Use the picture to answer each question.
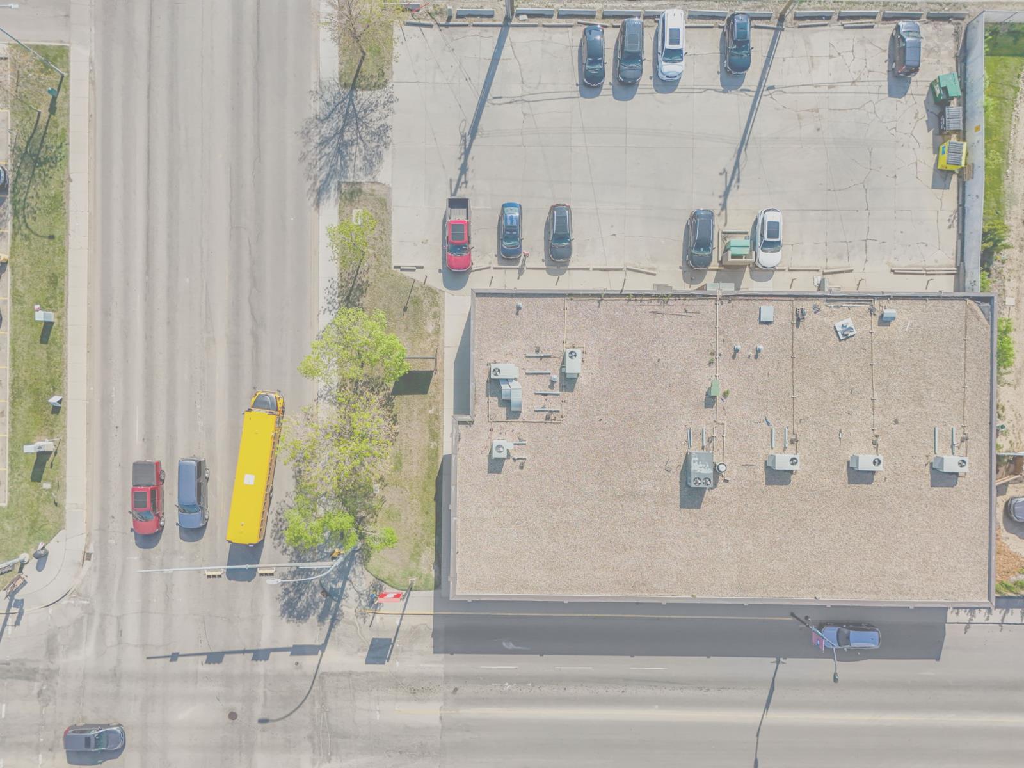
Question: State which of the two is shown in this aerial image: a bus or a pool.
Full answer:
Of the two, only a bus appears.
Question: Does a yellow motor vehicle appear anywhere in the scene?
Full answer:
Yes, the picture does show a yellow motor vehicle.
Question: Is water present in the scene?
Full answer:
No, no water is visible.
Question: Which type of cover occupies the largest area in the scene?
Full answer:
The scene is dominated by paved ground.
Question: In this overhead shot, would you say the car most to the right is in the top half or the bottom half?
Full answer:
Seen from above, the car most to the right lies in the bottom half of the view.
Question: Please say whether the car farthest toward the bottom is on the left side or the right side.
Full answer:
The car farthest toward the bottom appears in the left half of the scene.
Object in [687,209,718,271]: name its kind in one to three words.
car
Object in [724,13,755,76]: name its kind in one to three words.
car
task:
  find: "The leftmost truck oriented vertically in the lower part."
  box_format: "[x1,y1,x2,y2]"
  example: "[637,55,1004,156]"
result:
[130,458,167,535]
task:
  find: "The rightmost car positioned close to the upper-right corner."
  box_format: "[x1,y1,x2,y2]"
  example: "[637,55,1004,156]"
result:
[889,20,925,79]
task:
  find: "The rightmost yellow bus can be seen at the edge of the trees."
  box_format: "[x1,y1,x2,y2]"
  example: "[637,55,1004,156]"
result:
[225,387,291,545]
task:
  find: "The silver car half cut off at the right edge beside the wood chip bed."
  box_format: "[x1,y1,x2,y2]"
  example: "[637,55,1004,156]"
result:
[1001,496,1024,522]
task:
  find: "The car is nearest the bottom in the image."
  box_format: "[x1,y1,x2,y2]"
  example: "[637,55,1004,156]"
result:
[63,719,130,754]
